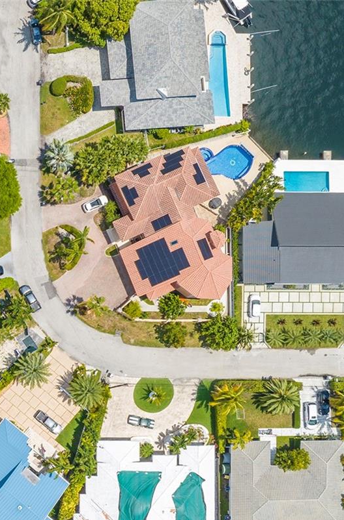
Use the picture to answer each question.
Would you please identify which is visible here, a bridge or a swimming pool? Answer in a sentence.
The one in the frame is a swimming pool.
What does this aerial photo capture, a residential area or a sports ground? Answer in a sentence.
This image shows a residential area.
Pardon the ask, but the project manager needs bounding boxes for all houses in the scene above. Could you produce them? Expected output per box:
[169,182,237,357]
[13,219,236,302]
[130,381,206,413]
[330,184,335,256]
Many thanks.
[109,145,230,300]
[259,192,344,284]
[98,0,215,134]
[226,441,344,520]
[0,418,68,520]
[72,440,215,520]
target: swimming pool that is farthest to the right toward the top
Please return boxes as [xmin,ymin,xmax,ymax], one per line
[283,171,330,191]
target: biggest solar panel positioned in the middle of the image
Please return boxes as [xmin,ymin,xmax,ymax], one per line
[134,237,190,285]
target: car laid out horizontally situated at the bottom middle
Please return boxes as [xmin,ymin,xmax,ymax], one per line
[127,416,156,429]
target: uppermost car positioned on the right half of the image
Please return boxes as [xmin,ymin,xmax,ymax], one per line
[247,292,262,319]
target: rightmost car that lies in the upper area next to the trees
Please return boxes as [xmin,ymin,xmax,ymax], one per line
[81,196,108,213]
